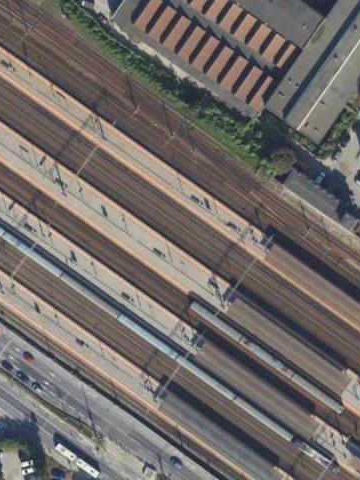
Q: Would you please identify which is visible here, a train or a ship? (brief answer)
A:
train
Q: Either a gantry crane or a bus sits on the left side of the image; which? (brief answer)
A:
bus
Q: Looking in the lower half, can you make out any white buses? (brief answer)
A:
Yes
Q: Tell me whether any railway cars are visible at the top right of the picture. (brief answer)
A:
No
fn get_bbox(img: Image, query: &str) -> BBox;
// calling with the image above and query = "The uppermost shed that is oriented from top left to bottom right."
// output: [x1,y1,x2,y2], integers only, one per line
[283,171,339,221]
